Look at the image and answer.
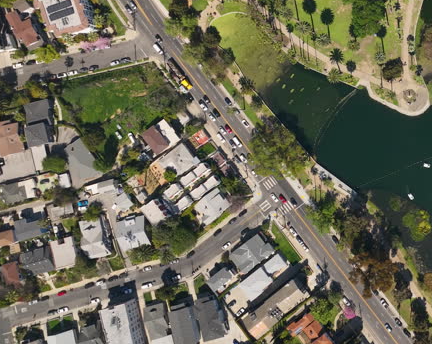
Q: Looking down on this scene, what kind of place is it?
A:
residential area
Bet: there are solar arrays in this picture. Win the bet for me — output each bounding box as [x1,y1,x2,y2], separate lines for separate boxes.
[48,7,75,20]
[46,0,72,12]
